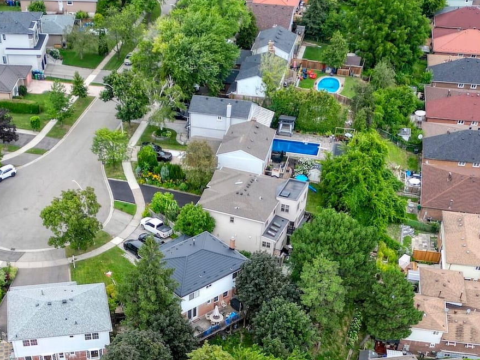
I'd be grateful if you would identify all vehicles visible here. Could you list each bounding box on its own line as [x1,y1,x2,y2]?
[121,241,146,261]
[140,218,175,239]
[141,143,172,160]
[124,51,134,64]
[0,164,17,182]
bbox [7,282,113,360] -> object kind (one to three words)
house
